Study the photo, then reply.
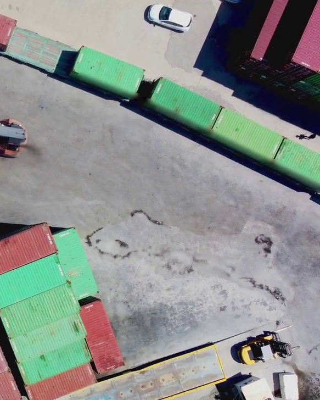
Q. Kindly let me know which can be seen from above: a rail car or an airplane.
rail car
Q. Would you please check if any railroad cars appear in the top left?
Yes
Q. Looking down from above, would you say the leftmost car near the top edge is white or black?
white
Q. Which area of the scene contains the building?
bottom right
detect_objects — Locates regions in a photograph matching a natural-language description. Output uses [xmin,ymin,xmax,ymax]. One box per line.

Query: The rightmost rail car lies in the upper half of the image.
[137,79,320,193]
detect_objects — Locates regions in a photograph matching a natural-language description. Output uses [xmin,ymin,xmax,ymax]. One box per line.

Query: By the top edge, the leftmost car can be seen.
[148,4,197,34]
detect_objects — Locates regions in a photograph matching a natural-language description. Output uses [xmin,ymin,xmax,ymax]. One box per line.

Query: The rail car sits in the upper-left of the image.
[0,25,143,102]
